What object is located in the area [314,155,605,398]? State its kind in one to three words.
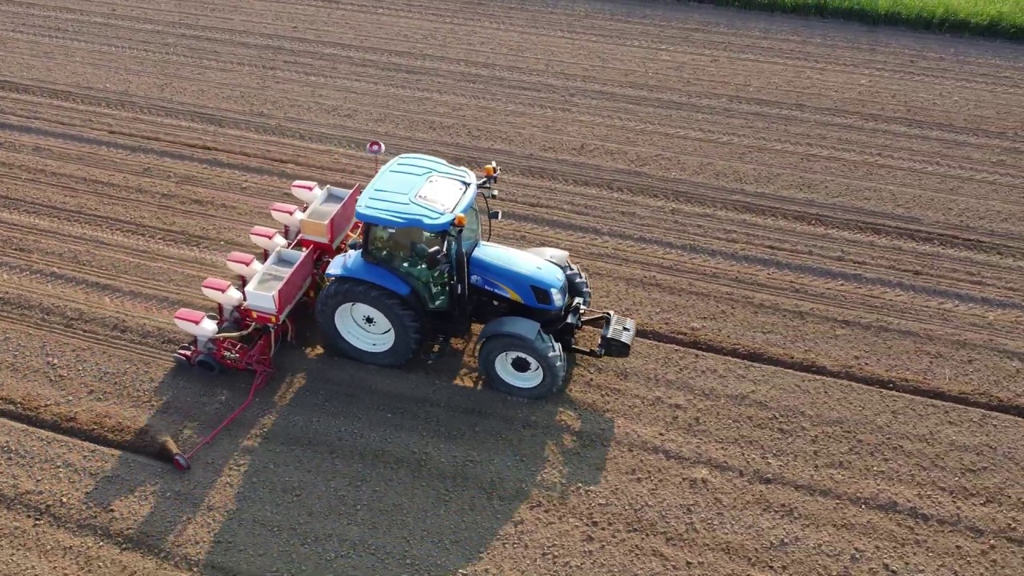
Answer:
work vehicle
